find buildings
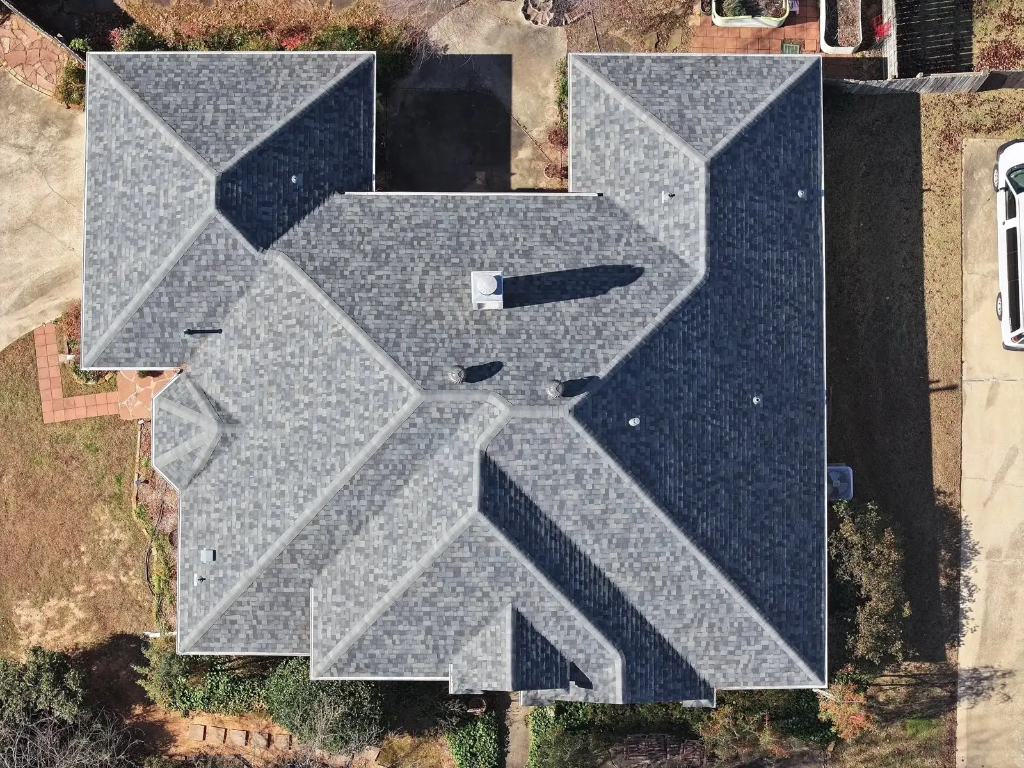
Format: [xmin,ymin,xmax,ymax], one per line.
[82,53,827,706]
